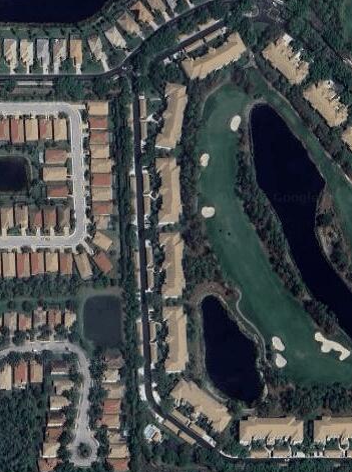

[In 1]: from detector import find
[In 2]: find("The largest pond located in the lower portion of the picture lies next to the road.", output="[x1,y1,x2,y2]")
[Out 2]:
[82,294,126,350]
